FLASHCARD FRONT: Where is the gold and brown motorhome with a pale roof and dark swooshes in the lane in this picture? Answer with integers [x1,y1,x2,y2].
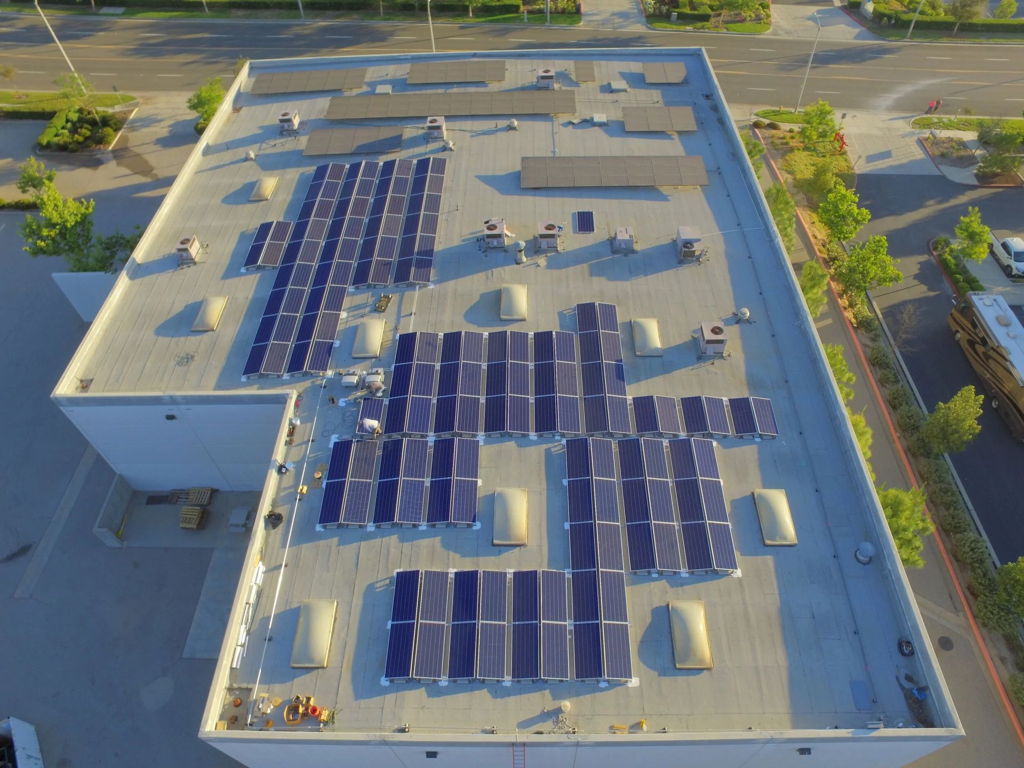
[950,293,1024,473]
